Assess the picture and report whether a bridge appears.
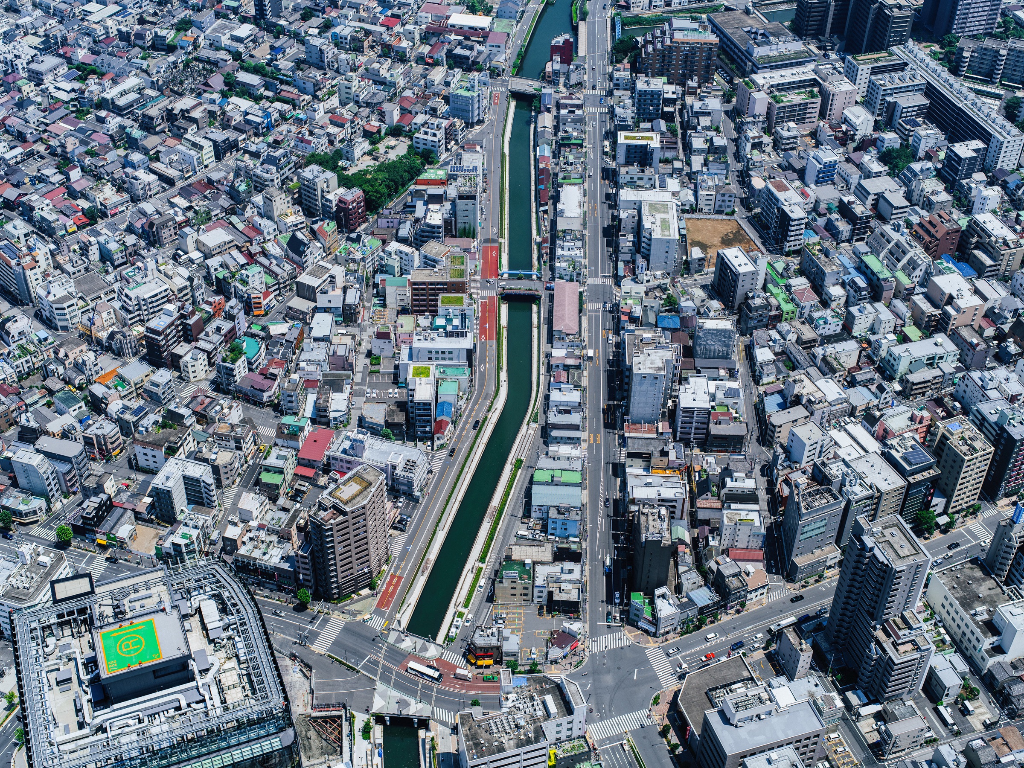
Yes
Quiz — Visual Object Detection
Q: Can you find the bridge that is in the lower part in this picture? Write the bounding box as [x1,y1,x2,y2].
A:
[372,624,461,726]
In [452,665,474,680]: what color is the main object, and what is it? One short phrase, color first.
white vehicle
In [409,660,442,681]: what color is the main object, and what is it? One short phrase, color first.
white bus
